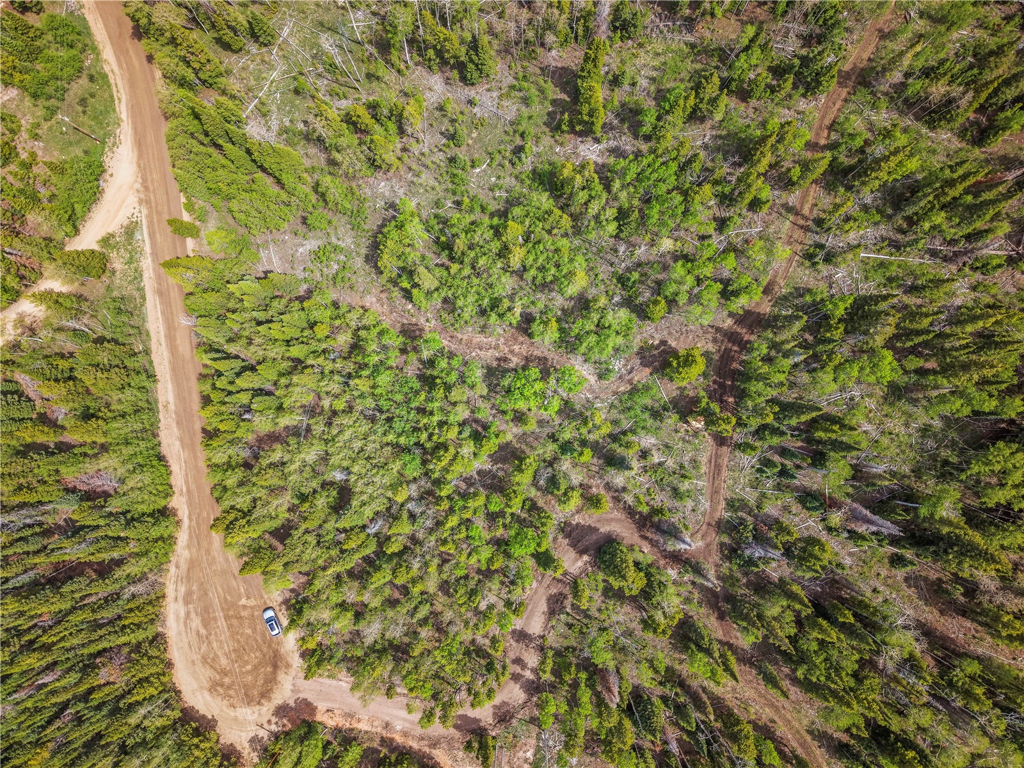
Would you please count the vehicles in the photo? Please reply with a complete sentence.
Only 1 vehicle is visible.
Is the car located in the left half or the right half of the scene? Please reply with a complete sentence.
The car is on the left side of the image.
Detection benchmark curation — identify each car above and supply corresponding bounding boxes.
[261,607,281,639]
